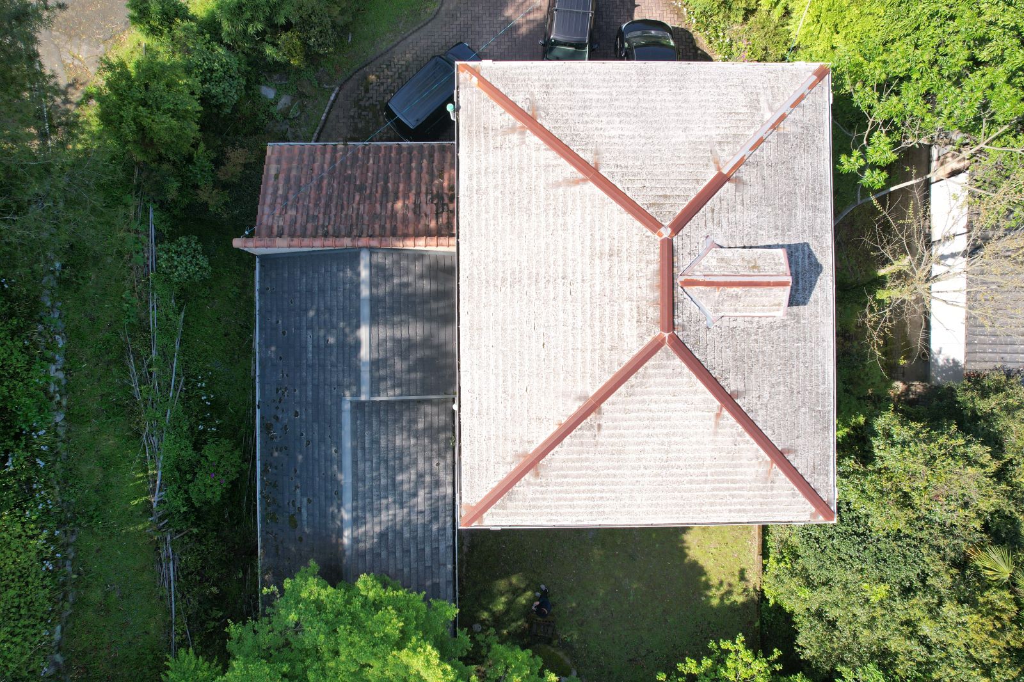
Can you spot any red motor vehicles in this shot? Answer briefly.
No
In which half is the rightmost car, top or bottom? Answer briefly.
top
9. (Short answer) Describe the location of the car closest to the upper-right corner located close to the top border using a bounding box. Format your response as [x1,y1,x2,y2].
[618,17,680,60]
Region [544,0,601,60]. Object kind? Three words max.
car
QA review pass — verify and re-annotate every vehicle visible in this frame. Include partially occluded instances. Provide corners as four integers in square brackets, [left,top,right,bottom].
[544,0,601,60]
[618,17,680,60]
[384,32,495,141]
